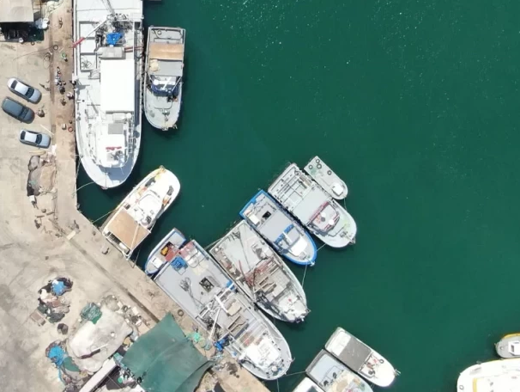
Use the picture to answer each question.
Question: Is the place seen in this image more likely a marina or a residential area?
marina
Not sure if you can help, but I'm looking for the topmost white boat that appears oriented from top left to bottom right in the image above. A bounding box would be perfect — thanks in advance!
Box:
[302,157,348,203]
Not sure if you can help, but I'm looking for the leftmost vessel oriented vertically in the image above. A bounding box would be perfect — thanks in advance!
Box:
[71,0,145,190]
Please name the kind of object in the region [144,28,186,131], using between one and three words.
boat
